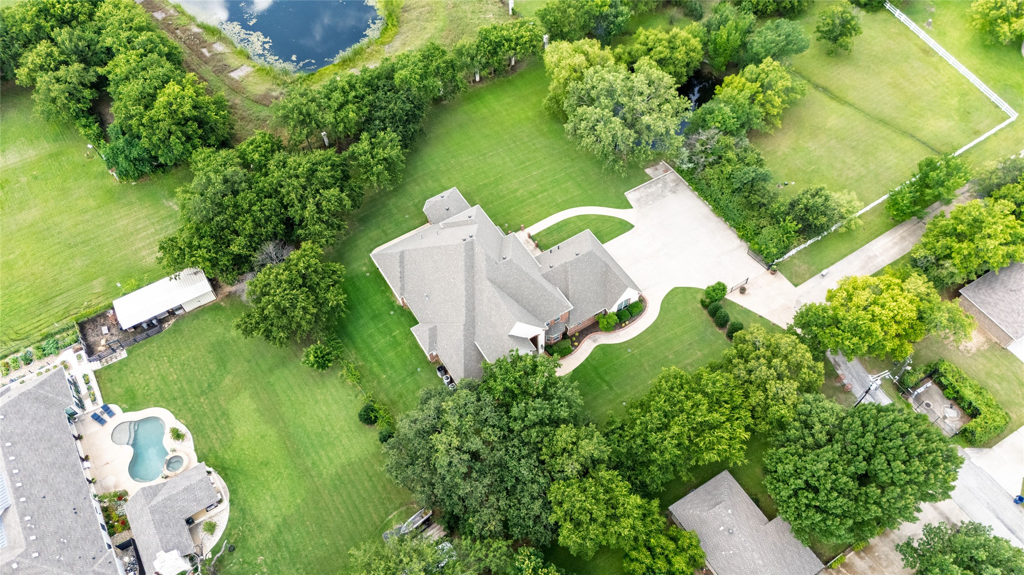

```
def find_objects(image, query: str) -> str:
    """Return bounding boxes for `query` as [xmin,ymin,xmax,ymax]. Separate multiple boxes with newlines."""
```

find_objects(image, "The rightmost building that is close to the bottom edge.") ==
[667,469,827,575]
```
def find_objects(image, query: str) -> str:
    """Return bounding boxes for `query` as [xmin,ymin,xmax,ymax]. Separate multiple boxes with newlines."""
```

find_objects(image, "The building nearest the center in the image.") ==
[369,187,644,403]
